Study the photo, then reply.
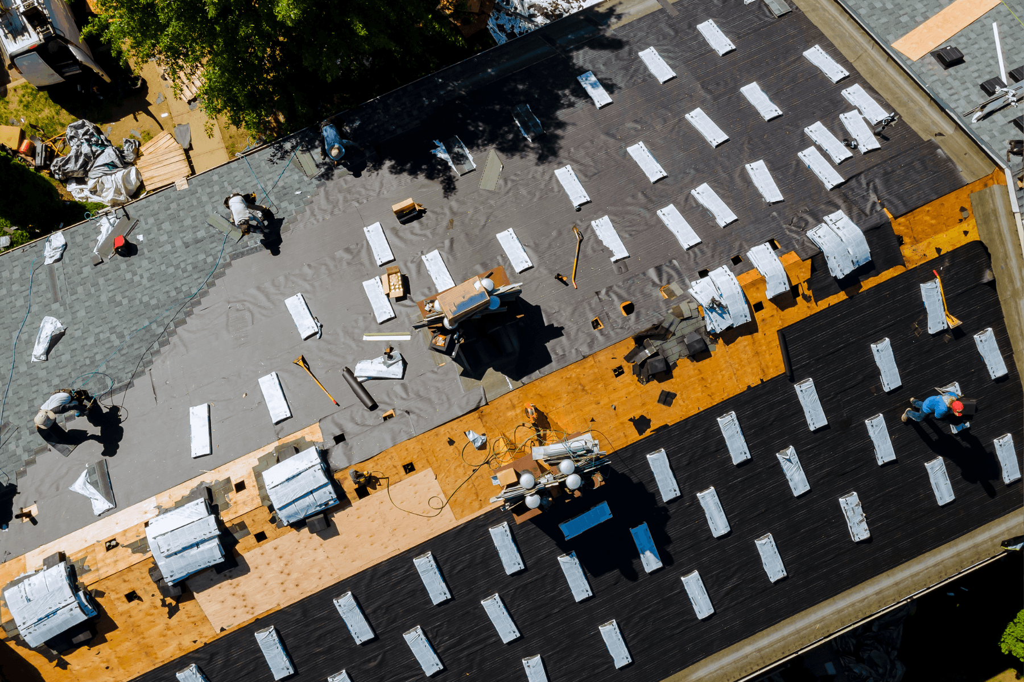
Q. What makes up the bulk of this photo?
buildings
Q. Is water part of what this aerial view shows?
No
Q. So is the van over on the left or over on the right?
left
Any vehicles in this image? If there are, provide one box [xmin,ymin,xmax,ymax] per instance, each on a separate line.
[0,0,112,102]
